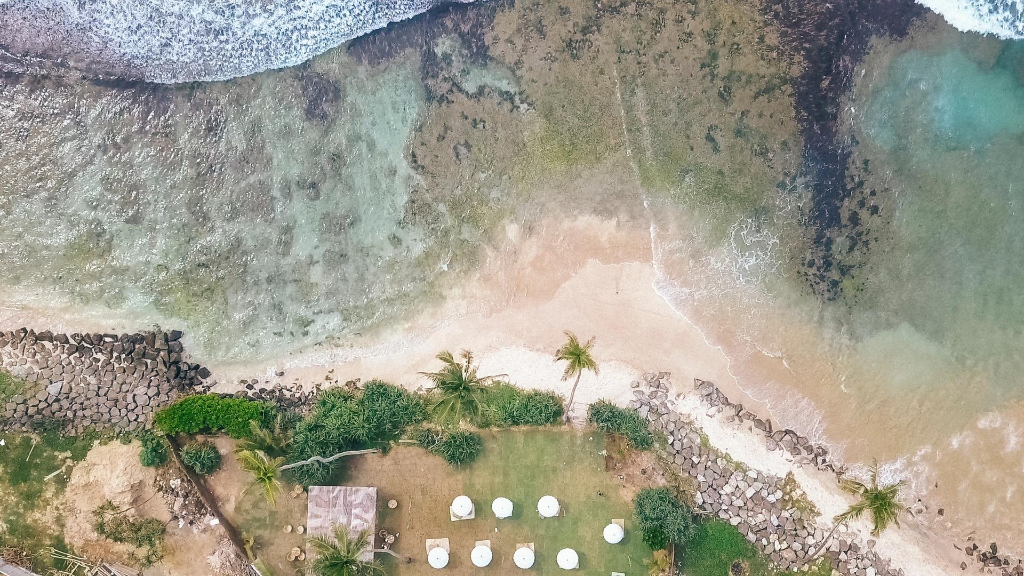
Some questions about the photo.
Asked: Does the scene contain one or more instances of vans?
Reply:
No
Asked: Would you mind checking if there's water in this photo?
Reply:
Yes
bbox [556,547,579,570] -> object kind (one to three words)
umbrella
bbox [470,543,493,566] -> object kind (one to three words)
umbrella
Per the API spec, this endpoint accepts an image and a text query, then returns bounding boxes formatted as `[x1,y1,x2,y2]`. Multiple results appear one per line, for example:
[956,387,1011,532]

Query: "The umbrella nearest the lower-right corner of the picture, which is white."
[602,521,625,544]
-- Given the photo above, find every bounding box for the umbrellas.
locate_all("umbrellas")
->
[470,543,493,566]
[512,545,535,569]
[602,521,625,544]
[427,545,450,568]
[491,496,513,518]
[451,494,473,517]
[537,494,559,517]
[556,547,579,570]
